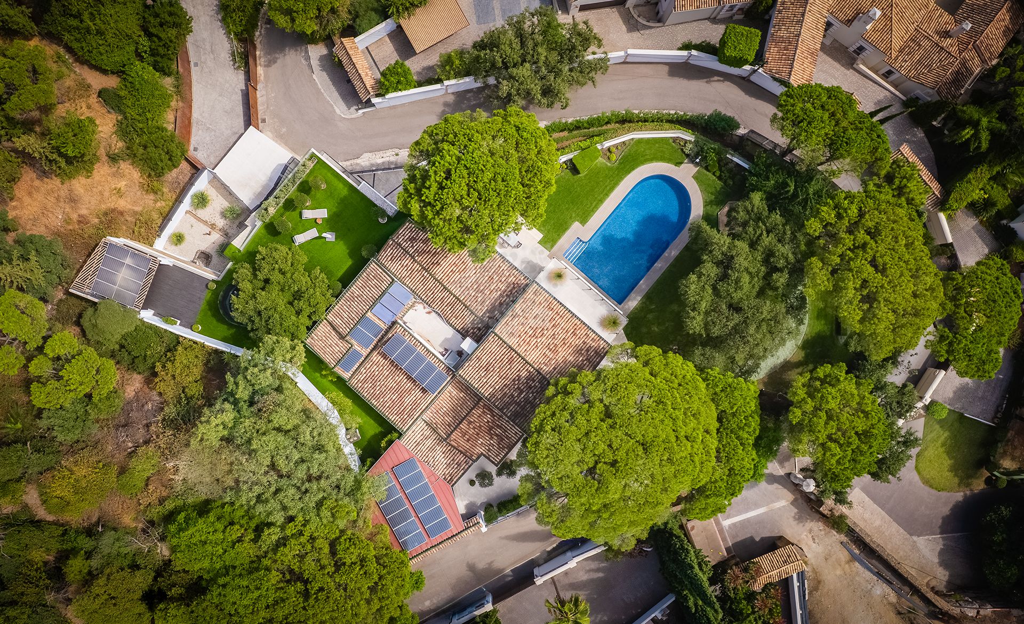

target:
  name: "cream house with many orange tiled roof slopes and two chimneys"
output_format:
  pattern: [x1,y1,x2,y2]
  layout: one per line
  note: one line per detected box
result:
[824,0,1024,104]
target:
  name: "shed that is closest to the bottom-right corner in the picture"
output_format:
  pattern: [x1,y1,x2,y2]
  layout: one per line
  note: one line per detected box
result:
[743,541,807,592]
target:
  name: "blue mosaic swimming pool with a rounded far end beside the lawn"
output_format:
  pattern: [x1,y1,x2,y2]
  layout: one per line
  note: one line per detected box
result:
[563,173,692,305]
